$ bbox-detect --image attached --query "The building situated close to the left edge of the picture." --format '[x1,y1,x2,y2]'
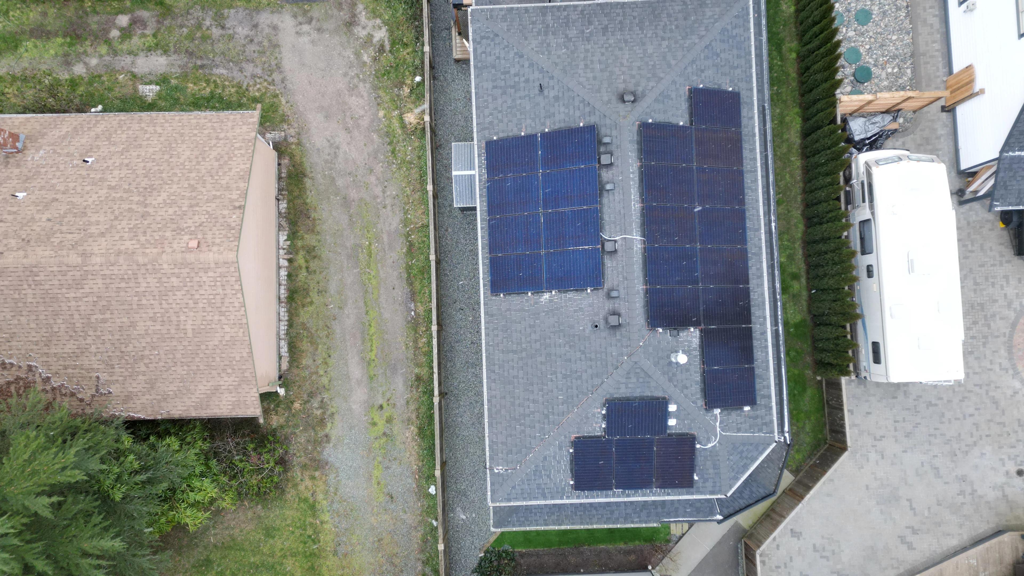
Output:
[0,108,285,426]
